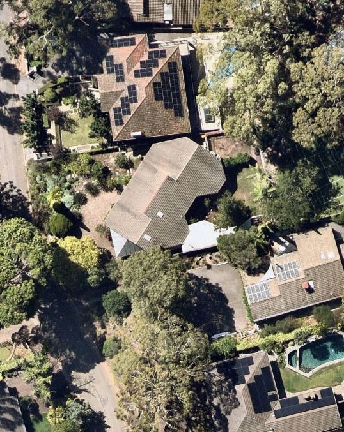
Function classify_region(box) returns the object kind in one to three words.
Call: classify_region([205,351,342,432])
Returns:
building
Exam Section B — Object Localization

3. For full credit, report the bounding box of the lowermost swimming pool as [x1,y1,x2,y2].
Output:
[286,328,344,376]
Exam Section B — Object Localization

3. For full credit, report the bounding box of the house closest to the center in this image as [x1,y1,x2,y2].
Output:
[104,136,228,257]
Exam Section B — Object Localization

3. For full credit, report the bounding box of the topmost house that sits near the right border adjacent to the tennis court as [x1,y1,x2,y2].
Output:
[245,226,344,322]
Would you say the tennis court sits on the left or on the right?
right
